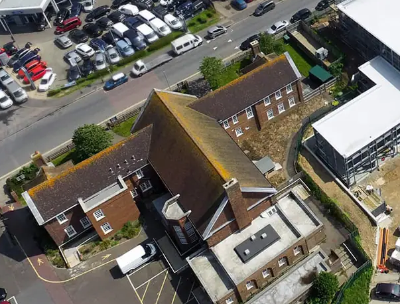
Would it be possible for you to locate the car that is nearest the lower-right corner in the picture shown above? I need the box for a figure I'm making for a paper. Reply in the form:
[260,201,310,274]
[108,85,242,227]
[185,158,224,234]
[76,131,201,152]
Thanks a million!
[372,283,400,302]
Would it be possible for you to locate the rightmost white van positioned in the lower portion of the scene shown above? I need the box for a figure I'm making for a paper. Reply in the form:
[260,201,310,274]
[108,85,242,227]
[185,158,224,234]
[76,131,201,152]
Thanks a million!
[108,248,155,279]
